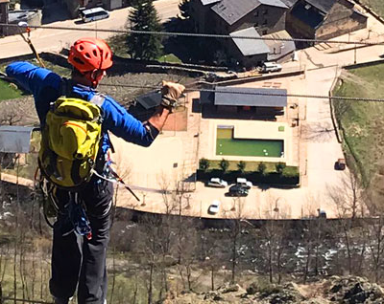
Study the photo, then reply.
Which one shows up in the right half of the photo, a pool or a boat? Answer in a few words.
pool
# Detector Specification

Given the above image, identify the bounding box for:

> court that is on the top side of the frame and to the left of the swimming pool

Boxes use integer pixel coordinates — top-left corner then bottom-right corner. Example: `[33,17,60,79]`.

[166,102,189,131]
